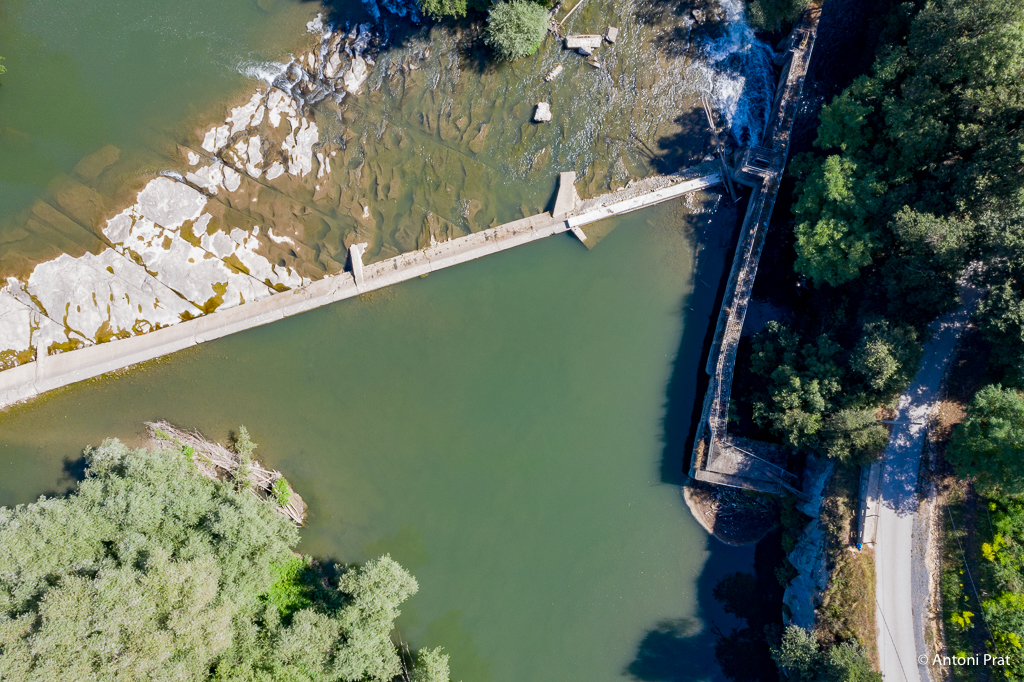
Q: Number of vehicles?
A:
0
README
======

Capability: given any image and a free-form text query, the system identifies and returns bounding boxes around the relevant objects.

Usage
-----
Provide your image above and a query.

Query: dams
[0,171,722,410]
